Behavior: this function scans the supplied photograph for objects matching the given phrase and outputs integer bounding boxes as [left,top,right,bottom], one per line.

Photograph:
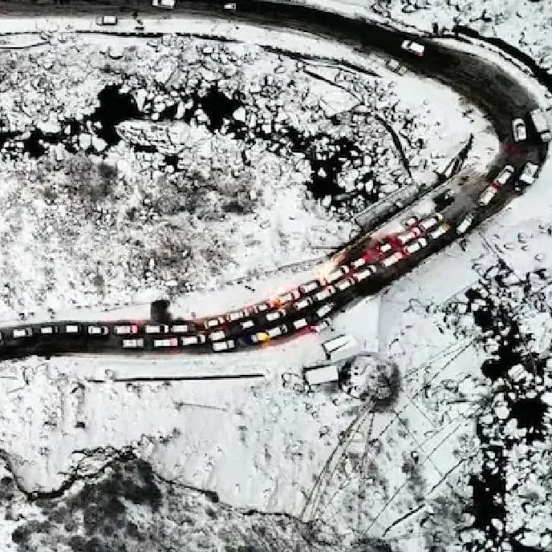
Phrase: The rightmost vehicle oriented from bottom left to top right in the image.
[513,166,537,191]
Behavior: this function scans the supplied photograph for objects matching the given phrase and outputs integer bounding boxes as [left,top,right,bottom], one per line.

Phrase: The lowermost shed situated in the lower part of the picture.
[303,365,339,384]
